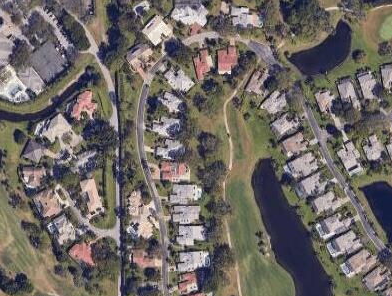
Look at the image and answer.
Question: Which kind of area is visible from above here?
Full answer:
It's a residential area.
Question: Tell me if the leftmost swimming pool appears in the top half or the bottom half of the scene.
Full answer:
You can find the leftmost swimming pool in the top half.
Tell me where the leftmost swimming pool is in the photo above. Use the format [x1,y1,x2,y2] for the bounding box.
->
[0,67,31,103]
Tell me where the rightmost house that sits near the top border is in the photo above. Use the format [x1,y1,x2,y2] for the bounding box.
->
[231,7,260,27]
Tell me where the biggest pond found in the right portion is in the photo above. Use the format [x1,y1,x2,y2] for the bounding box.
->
[288,19,352,75]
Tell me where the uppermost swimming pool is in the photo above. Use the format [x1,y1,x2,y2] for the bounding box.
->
[134,1,151,17]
